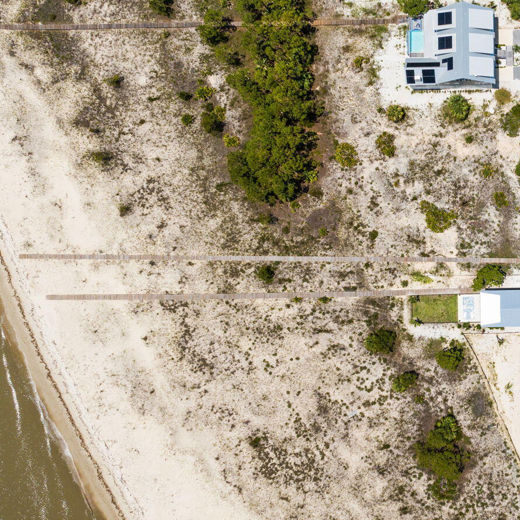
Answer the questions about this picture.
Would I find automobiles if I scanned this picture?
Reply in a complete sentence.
No, I can't see a single automobile in this photo.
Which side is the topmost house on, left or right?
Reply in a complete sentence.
It is on the right.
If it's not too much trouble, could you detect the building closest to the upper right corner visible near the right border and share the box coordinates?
[404,2,513,88]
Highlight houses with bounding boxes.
[458,291,520,327]
[404,2,513,88]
